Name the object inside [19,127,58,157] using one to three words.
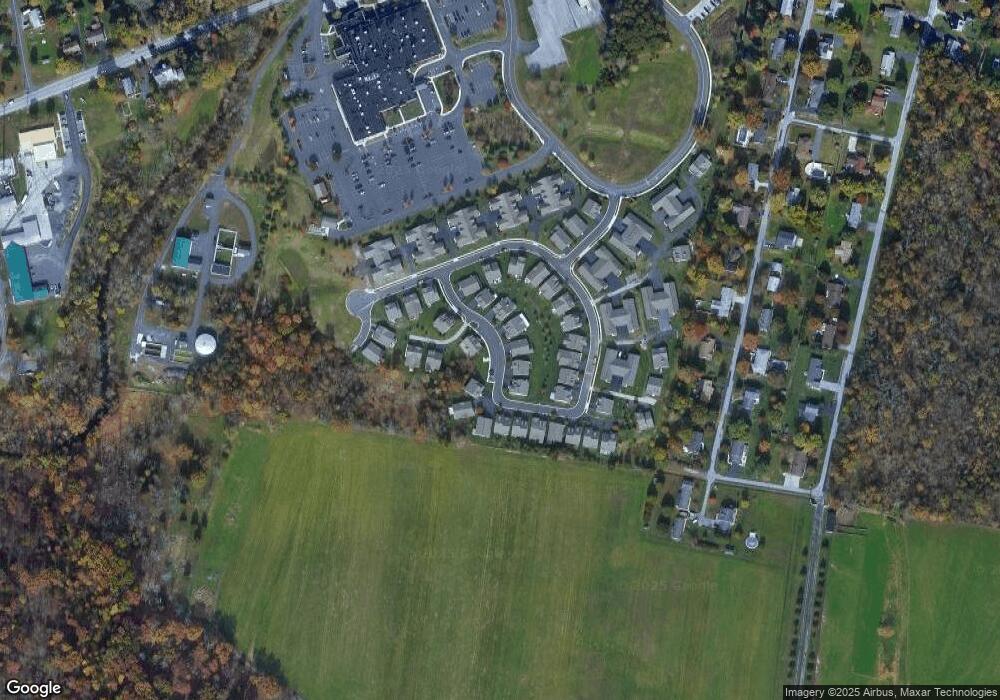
building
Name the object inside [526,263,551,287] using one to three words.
house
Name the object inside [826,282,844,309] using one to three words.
house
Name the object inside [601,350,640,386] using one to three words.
building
